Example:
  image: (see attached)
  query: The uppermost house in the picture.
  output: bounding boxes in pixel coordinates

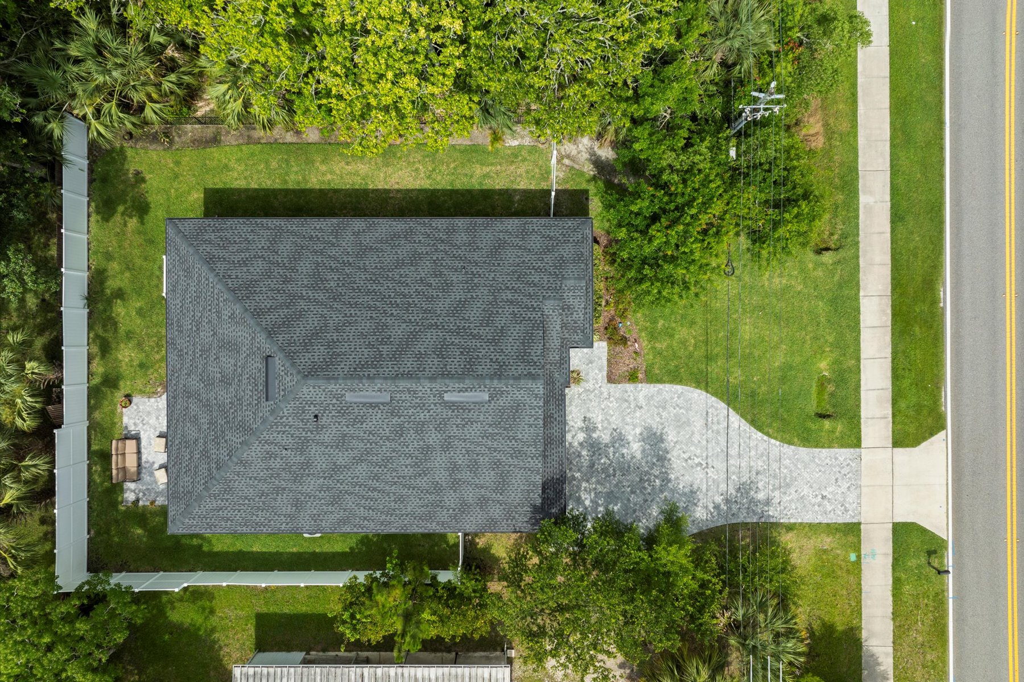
[164,215,595,535]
